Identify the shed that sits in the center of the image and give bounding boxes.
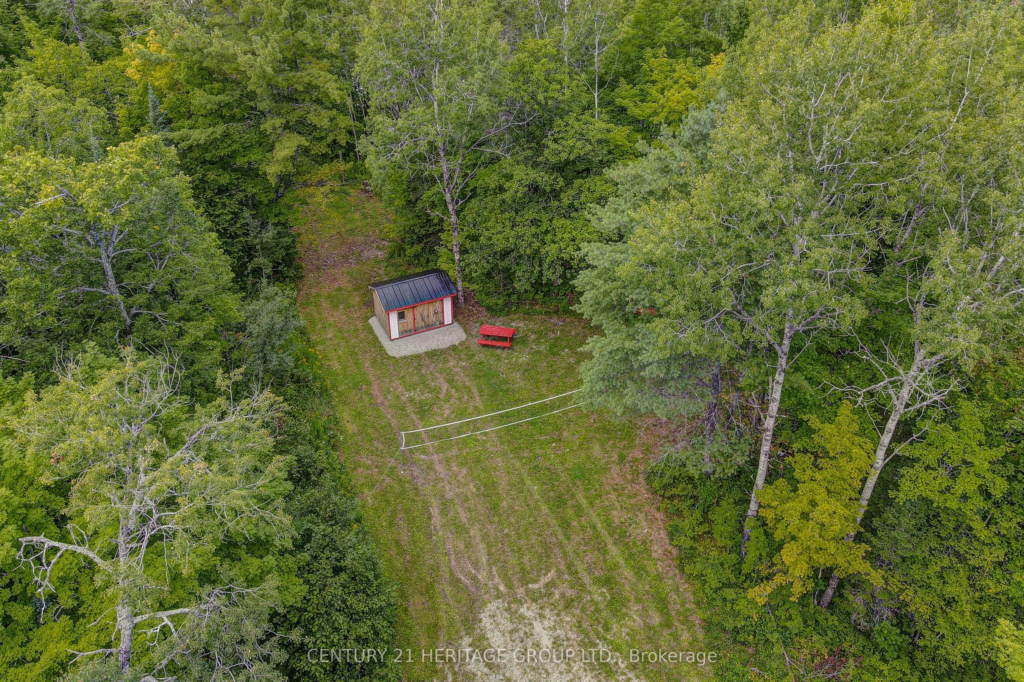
[367,269,458,340]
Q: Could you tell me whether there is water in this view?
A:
No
